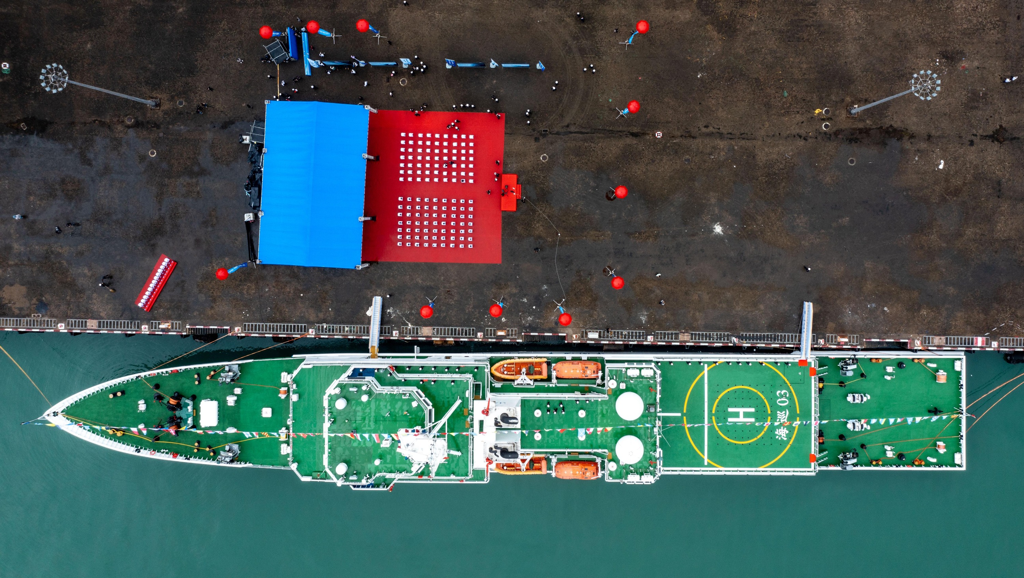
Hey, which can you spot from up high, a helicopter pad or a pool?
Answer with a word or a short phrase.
helicopter pad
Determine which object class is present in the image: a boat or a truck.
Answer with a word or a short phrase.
boat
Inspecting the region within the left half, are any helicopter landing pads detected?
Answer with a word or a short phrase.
No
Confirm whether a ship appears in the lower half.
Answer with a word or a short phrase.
Yes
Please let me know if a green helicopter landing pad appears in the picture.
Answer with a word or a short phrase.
Yes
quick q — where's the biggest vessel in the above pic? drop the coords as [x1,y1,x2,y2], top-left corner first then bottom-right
[21,346,976,491]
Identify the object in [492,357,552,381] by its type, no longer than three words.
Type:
boat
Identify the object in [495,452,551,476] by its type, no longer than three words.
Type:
boat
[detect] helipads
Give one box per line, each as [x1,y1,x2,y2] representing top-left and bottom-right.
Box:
[649,356,819,476]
